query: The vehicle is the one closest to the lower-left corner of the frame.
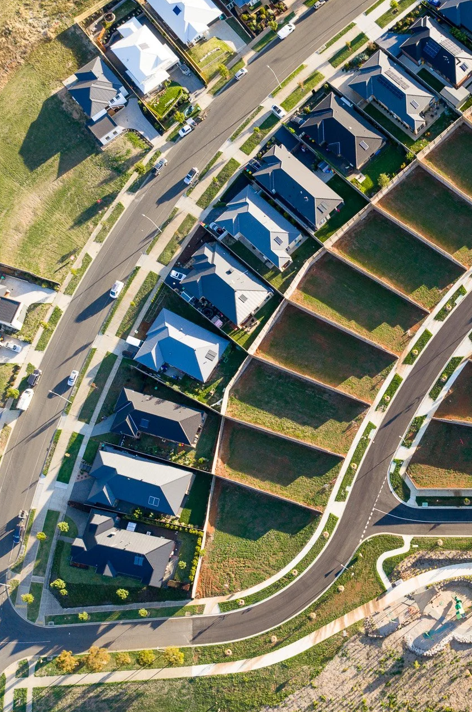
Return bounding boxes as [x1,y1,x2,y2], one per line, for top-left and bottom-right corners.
[11,523,23,545]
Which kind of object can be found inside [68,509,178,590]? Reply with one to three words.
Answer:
house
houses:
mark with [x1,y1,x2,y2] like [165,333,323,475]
[437,0,472,37]
[60,56,134,121]
[178,241,272,328]
[110,14,180,98]
[68,509,178,590]
[109,387,209,447]
[226,0,263,14]
[251,142,342,229]
[347,52,437,134]
[299,90,387,171]
[149,0,224,49]
[83,450,194,518]
[214,185,304,272]
[398,12,472,90]
[132,307,229,384]
[0,297,24,324]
